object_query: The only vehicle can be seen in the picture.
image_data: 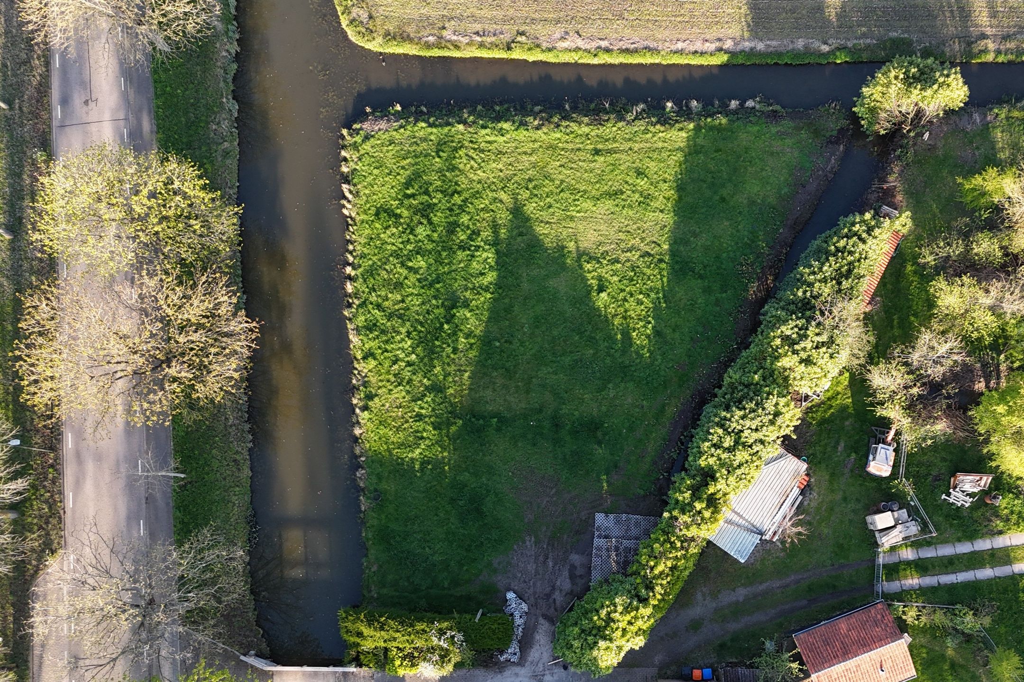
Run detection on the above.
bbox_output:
[862,425,905,477]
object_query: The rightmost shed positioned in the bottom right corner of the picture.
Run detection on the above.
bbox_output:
[778,596,913,682]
